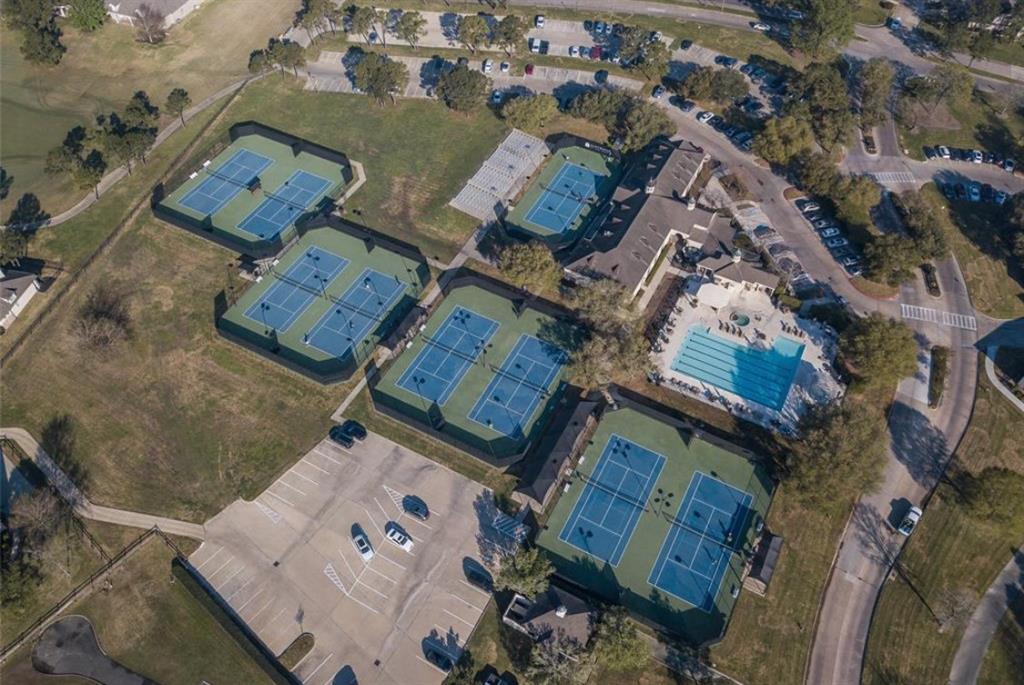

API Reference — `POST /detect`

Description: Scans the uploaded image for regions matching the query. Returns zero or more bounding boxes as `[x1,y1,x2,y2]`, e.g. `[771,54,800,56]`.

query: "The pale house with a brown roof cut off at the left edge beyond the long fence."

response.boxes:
[0,273,37,326]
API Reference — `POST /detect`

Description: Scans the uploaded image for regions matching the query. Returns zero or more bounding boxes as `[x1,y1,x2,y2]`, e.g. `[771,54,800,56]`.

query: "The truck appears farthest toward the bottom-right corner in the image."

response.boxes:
[900,503,923,533]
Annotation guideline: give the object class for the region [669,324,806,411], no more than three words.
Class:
swimming pool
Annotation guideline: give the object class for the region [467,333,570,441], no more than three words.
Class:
tennis court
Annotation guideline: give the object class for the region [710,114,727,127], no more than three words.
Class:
vehicle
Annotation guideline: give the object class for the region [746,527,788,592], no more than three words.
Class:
shed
